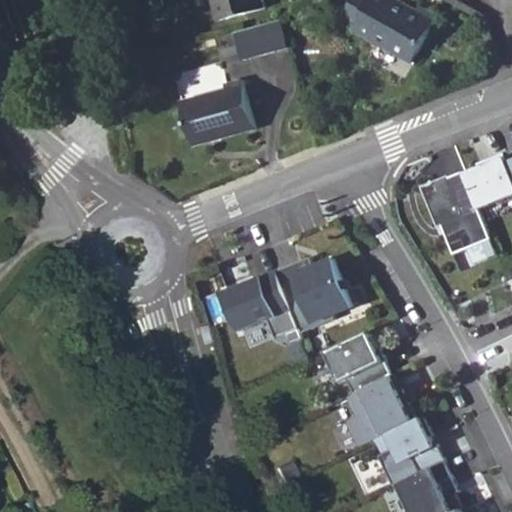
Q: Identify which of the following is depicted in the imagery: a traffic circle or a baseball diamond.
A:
traffic circle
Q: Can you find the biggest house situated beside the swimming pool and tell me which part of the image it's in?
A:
center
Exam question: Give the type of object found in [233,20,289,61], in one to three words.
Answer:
building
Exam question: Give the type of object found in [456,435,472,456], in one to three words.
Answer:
car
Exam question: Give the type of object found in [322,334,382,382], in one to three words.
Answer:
house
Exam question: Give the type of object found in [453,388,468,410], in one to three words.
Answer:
car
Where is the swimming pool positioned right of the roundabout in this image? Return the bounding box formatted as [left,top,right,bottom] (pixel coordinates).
[206,294,225,324]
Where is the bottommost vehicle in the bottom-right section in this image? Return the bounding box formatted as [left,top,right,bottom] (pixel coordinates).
[473,472,492,500]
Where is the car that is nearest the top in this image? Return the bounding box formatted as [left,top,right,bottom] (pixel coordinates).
[251,224,264,246]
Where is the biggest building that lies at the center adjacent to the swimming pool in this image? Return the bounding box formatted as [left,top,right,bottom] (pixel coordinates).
[218,277,278,332]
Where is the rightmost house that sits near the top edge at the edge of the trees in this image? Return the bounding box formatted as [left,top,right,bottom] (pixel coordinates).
[348,0,435,62]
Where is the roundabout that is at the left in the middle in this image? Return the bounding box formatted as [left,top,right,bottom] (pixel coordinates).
[80,196,184,305]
